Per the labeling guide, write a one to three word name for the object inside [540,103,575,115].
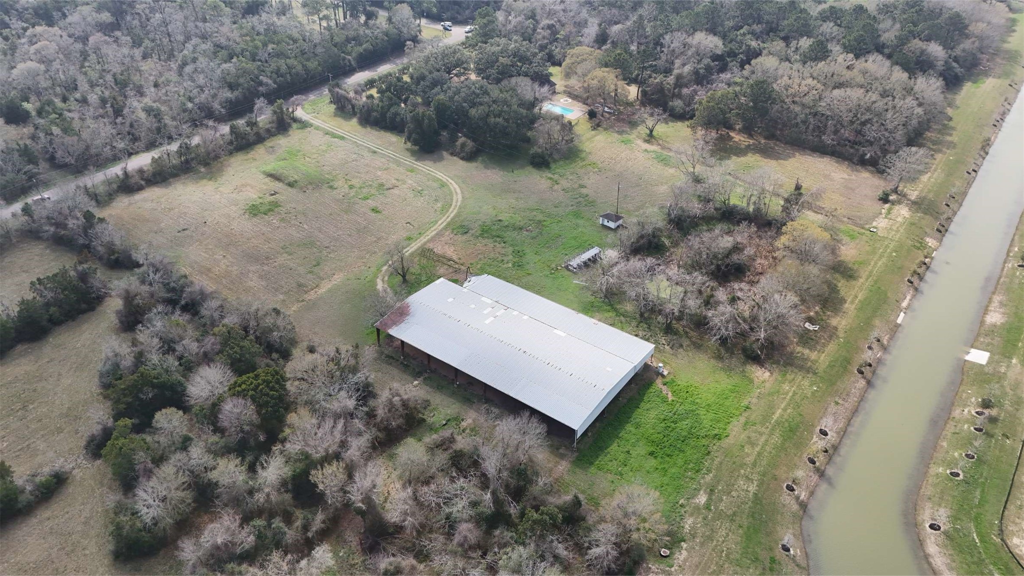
swimming pool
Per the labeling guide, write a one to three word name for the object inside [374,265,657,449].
barn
